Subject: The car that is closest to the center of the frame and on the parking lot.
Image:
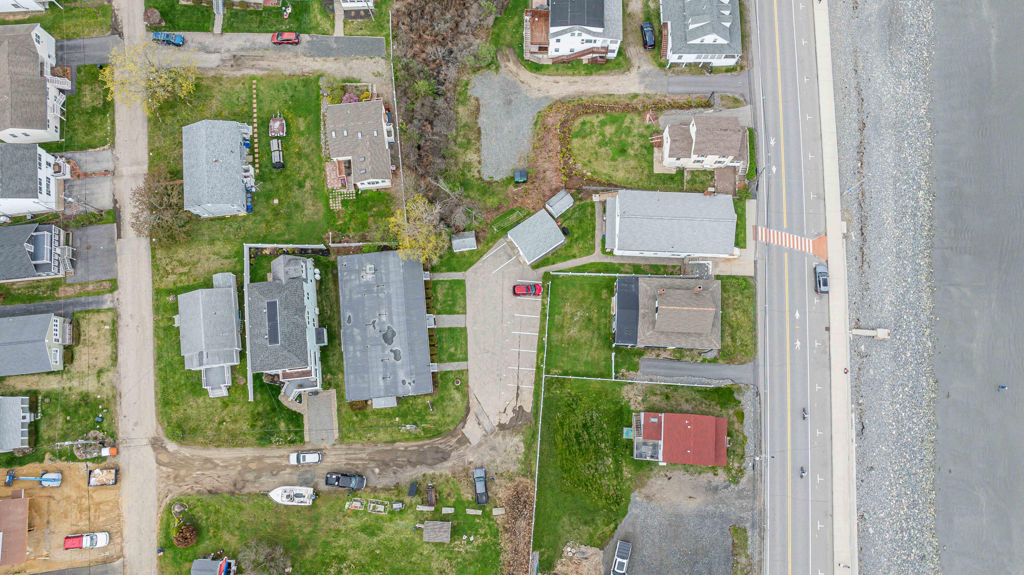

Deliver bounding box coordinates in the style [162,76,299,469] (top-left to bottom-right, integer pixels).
[512,283,543,297]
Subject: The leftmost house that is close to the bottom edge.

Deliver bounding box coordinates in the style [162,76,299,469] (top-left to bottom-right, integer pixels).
[0,487,52,565]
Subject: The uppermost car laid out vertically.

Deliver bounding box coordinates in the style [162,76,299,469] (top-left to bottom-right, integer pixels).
[641,22,656,51]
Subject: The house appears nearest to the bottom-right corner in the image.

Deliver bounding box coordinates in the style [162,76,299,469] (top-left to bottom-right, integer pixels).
[622,411,732,467]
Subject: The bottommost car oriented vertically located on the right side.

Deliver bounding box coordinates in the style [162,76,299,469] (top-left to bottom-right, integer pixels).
[609,539,631,575]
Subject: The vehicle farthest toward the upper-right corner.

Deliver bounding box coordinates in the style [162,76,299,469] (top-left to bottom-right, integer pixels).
[812,264,830,295]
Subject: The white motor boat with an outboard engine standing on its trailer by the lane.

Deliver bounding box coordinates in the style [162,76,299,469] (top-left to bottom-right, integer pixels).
[266,486,318,506]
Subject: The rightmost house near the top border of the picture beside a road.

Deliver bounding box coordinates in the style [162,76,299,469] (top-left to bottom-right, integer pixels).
[659,0,742,64]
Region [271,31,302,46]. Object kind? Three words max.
car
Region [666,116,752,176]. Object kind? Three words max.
house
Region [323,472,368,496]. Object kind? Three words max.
truck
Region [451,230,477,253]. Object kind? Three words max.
shed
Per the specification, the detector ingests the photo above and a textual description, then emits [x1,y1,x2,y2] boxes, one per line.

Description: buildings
[330,81,394,191]
[501,209,565,272]
[0,393,35,453]
[0,221,76,285]
[524,0,623,66]
[189,551,243,575]
[546,189,574,218]
[592,186,741,275]
[248,258,330,399]
[451,230,477,253]
[659,0,742,64]
[622,411,732,467]
[666,116,752,176]
[183,120,258,214]
[0,313,77,376]
[0,24,71,138]
[0,0,61,11]
[415,520,451,543]
[334,0,373,14]
[0,487,52,565]
[169,273,243,397]
[615,277,721,349]
[0,139,73,209]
